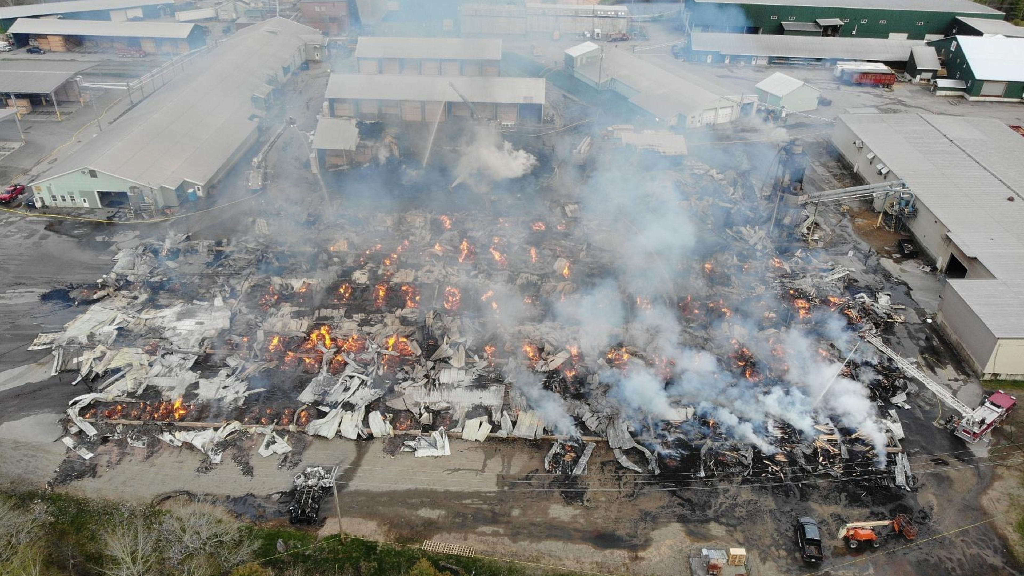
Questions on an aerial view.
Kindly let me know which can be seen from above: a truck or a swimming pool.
truck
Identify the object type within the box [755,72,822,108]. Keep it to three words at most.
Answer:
house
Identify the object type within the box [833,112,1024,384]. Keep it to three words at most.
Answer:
warehouse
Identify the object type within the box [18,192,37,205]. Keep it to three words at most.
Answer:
vehicle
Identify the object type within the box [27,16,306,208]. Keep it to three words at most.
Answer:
building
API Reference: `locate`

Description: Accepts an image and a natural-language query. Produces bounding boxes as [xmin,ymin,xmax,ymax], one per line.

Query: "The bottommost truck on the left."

[283,455,341,528]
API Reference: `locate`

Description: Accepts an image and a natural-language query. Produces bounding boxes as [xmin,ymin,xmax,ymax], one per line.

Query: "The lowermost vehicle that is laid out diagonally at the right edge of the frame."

[860,327,1017,450]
